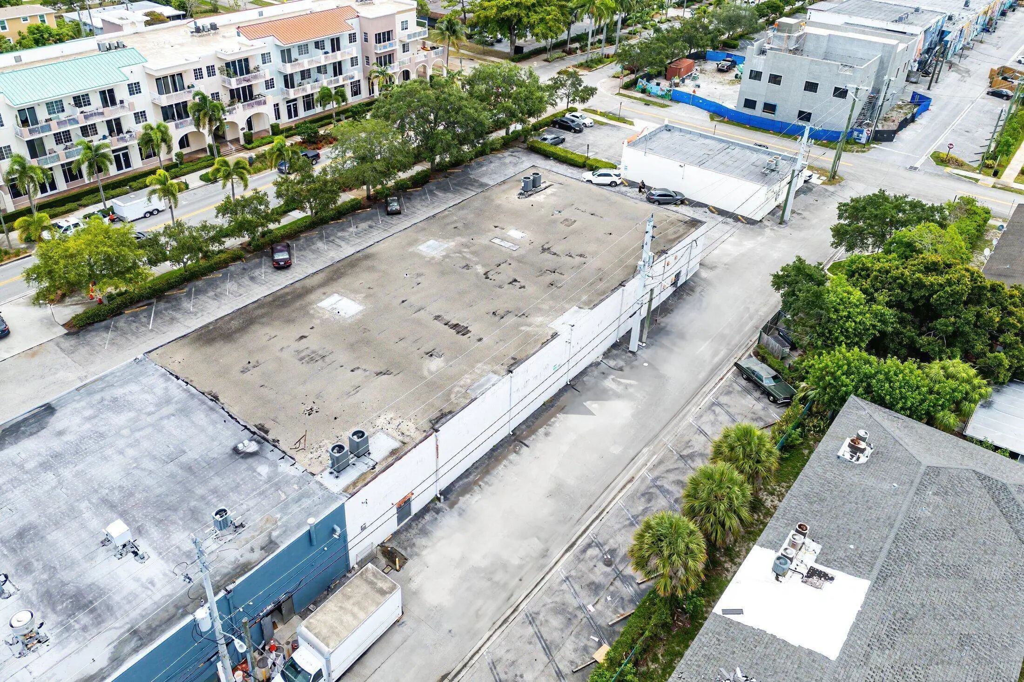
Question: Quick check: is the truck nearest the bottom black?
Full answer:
No, from above the truck nearest the bottom looks white.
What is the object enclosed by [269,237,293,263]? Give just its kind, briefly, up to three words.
car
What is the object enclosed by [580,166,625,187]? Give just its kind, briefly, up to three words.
car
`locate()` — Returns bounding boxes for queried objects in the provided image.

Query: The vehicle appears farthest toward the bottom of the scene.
[273,565,404,682]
